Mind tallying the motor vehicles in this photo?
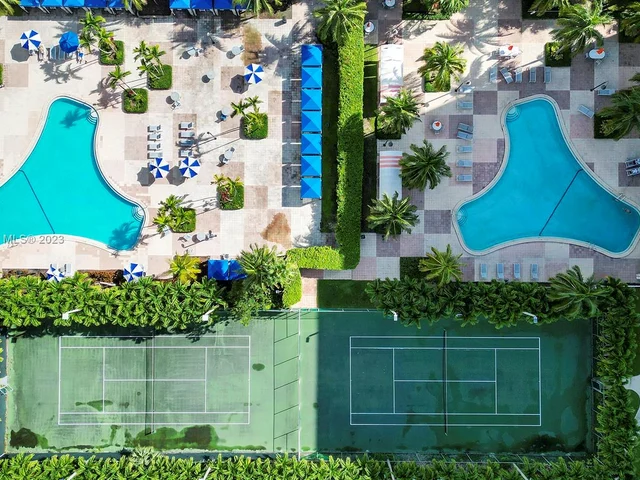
0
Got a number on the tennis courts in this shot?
2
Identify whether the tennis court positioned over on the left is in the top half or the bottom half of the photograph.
bottom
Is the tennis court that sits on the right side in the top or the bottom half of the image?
bottom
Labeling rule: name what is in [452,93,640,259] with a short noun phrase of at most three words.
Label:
swimming pool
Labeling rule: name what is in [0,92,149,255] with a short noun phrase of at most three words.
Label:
swimming pool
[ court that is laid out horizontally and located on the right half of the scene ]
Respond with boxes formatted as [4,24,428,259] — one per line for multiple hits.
[299,309,592,453]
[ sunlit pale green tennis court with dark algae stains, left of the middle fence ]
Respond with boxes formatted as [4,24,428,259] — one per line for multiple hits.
[6,309,299,453]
